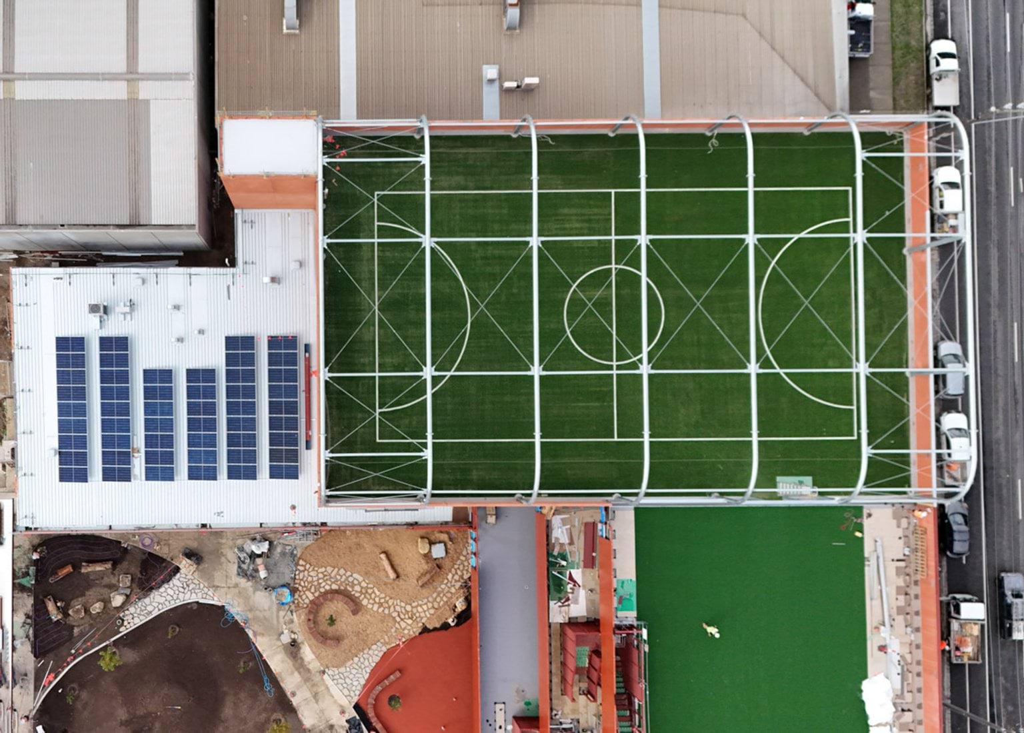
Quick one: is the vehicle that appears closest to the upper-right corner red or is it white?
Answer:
white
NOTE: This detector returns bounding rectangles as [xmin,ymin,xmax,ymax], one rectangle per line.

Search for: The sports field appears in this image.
[325,132,911,496]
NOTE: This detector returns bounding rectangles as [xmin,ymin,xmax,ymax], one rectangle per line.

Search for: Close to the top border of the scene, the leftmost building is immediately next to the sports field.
[0,0,211,253]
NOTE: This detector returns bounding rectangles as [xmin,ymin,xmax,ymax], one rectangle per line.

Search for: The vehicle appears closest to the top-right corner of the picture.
[927,40,965,109]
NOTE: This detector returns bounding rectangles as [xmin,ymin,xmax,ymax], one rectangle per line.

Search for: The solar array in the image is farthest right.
[268,336,300,478]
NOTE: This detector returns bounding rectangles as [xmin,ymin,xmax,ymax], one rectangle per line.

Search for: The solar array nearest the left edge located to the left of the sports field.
[57,337,89,481]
